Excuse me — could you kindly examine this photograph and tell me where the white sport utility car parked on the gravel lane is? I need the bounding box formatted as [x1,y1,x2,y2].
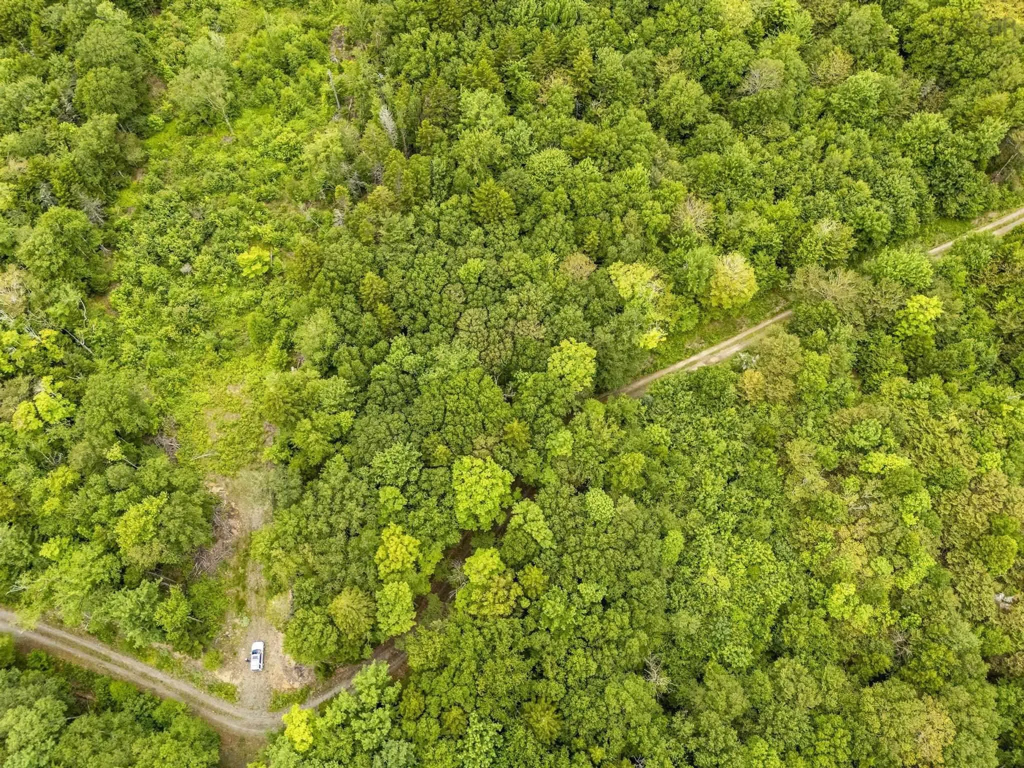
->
[249,640,267,673]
